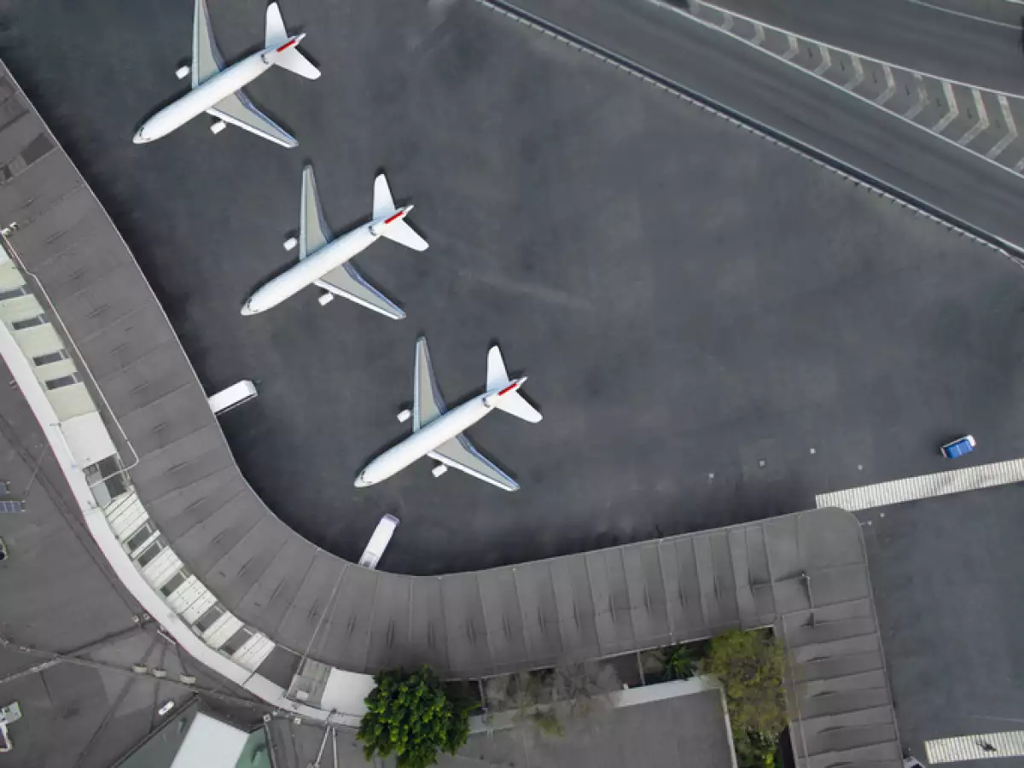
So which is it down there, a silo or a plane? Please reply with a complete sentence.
This aerial view contains a plane.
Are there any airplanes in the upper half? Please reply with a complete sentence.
Yes, there is an airplane in the upper half.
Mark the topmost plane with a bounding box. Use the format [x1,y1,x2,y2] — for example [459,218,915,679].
[133,0,322,149]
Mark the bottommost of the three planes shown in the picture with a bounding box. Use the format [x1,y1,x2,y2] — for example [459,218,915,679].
[355,334,545,491]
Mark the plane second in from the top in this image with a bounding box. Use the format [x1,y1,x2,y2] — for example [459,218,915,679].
[241,163,431,320]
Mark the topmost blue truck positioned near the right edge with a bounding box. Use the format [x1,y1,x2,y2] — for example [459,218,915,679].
[938,436,976,460]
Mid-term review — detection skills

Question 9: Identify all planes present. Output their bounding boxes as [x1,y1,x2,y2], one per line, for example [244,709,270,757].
[241,163,431,320]
[133,0,322,149]
[355,334,545,491]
